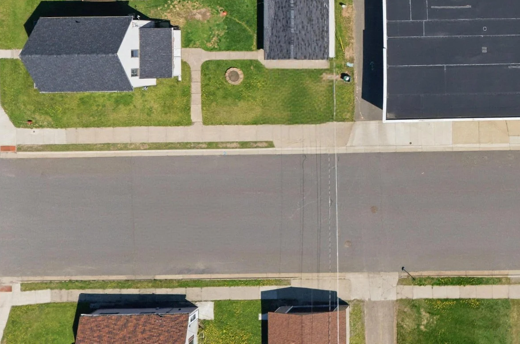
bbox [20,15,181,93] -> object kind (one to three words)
house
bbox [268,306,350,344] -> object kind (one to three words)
building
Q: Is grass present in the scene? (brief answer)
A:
Yes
